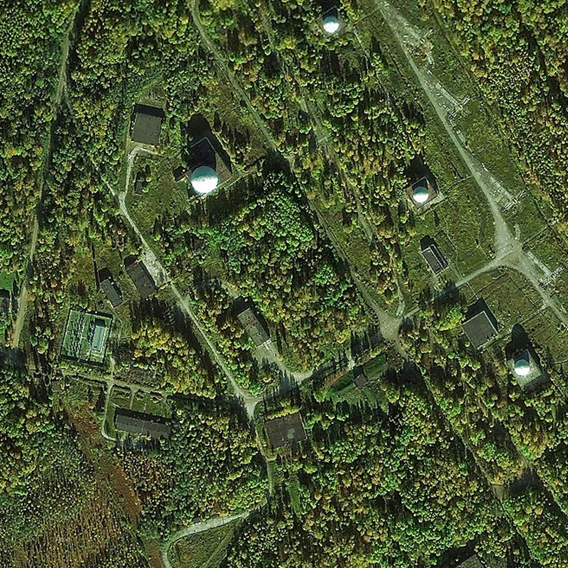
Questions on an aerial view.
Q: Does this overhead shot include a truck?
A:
No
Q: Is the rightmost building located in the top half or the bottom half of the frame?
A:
bottom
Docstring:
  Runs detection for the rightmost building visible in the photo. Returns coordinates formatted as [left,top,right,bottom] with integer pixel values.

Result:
[507,349,543,389]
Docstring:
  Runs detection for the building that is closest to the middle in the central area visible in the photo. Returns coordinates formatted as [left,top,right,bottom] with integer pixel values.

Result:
[237,307,270,346]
